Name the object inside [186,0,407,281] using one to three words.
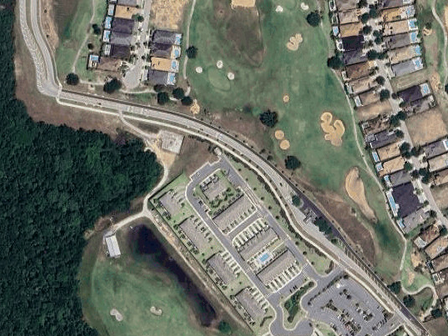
golf course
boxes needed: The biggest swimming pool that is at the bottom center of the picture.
[253,246,276,269]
